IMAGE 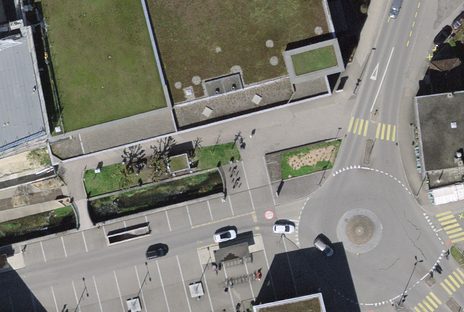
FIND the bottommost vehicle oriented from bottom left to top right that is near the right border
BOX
[432,24,454,46]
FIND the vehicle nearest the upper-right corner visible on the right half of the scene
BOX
[450,10,464,30]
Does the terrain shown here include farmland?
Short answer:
No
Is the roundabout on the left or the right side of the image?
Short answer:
right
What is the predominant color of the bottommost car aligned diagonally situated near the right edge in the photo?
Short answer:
black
